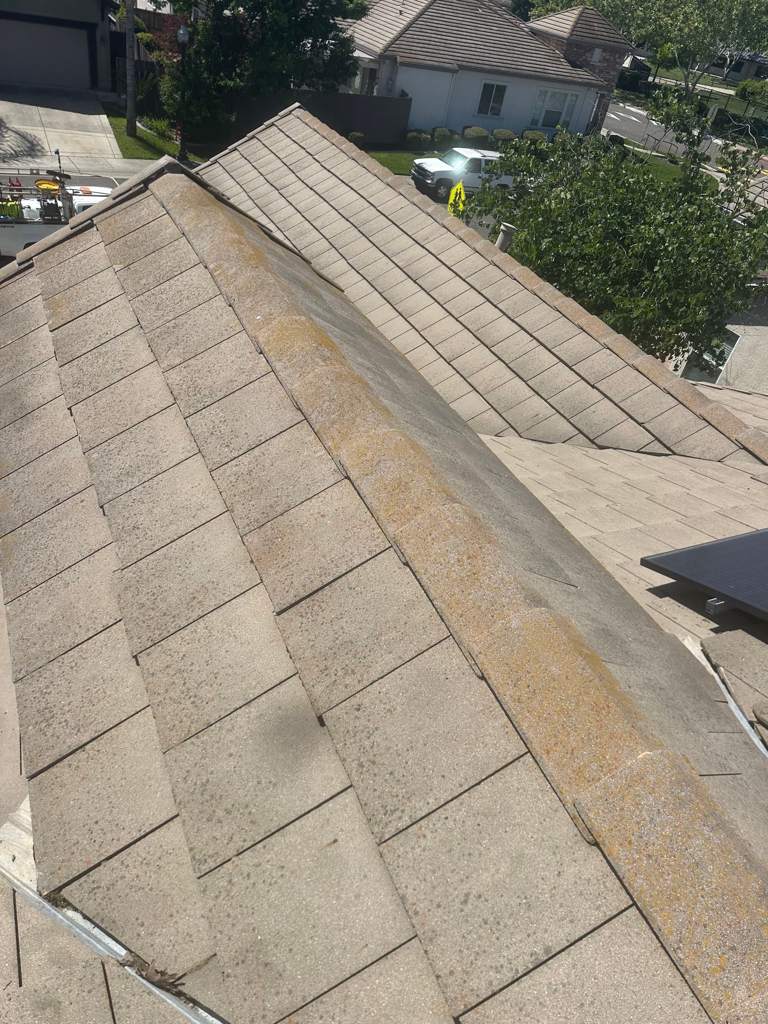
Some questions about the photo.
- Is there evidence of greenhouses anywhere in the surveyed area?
No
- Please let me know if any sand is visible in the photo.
No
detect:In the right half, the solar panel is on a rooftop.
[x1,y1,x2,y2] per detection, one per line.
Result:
[632,526,768,623]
